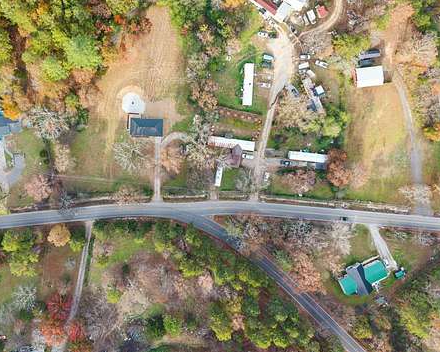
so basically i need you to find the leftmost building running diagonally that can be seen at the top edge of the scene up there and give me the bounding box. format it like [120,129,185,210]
[245,0,279,25]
